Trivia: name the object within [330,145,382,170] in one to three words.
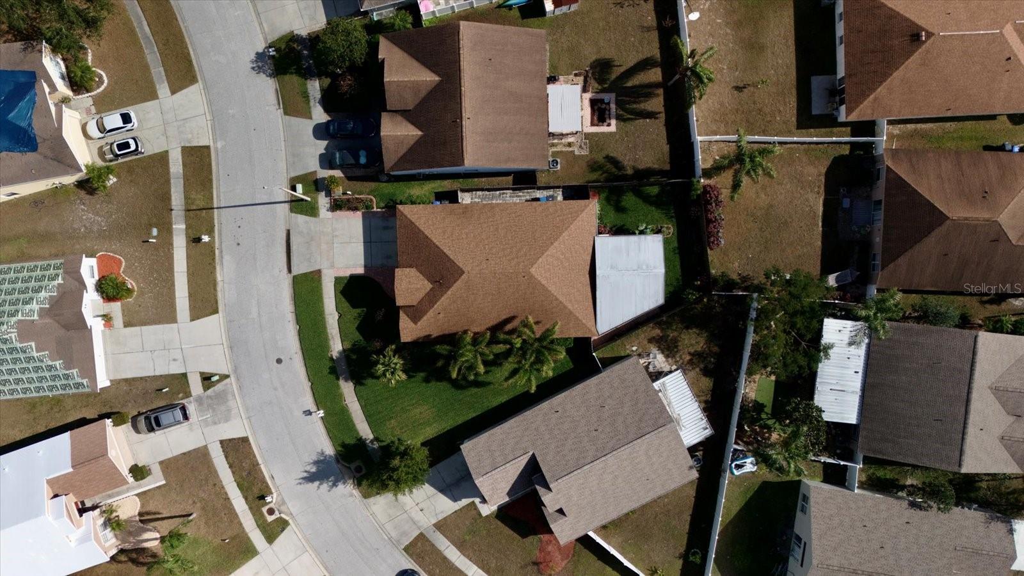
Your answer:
car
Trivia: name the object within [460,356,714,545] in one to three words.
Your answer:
house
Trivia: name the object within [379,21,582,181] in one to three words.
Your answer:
house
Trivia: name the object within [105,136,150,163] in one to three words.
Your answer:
car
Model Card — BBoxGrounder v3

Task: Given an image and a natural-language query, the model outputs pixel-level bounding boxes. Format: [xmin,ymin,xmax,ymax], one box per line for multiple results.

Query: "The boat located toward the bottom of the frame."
[729,456,756,474]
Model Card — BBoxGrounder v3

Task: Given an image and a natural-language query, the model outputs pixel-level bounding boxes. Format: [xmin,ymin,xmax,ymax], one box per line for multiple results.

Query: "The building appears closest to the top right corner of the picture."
[833,0,1024,123]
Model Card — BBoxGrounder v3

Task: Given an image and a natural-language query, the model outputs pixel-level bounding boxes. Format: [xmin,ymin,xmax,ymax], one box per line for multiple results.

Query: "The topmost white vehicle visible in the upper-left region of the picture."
[88,111,142,141]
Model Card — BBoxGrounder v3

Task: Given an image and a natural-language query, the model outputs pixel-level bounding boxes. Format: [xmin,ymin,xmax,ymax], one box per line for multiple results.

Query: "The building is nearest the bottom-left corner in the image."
[0,418,137,576]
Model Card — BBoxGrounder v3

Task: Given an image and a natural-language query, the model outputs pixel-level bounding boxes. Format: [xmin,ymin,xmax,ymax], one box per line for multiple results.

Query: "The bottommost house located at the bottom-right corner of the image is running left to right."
[790,481,1024,576]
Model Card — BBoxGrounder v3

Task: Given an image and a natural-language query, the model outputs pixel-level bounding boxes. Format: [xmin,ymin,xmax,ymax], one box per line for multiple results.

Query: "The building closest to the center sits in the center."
[394,199,665,342]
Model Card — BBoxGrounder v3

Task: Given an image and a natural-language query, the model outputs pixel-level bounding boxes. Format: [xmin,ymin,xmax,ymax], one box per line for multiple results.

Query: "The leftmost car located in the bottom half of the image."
[136,400,194,435]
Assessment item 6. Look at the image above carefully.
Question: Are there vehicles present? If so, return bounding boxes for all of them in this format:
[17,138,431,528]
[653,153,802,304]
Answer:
[88,111,142,141]
[105,136,150,163]
[330,145,382,170]
[326,115,380,140]
[136,400,194,435]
